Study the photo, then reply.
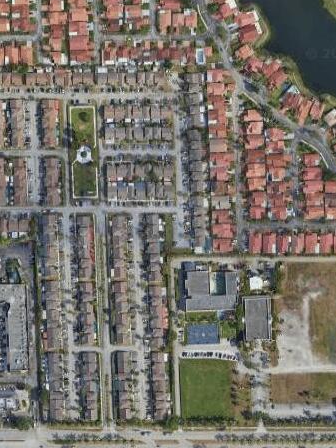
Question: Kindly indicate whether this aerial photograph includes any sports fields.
Yes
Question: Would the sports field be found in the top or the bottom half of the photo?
bottom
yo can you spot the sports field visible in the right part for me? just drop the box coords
[180,360,231,420]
